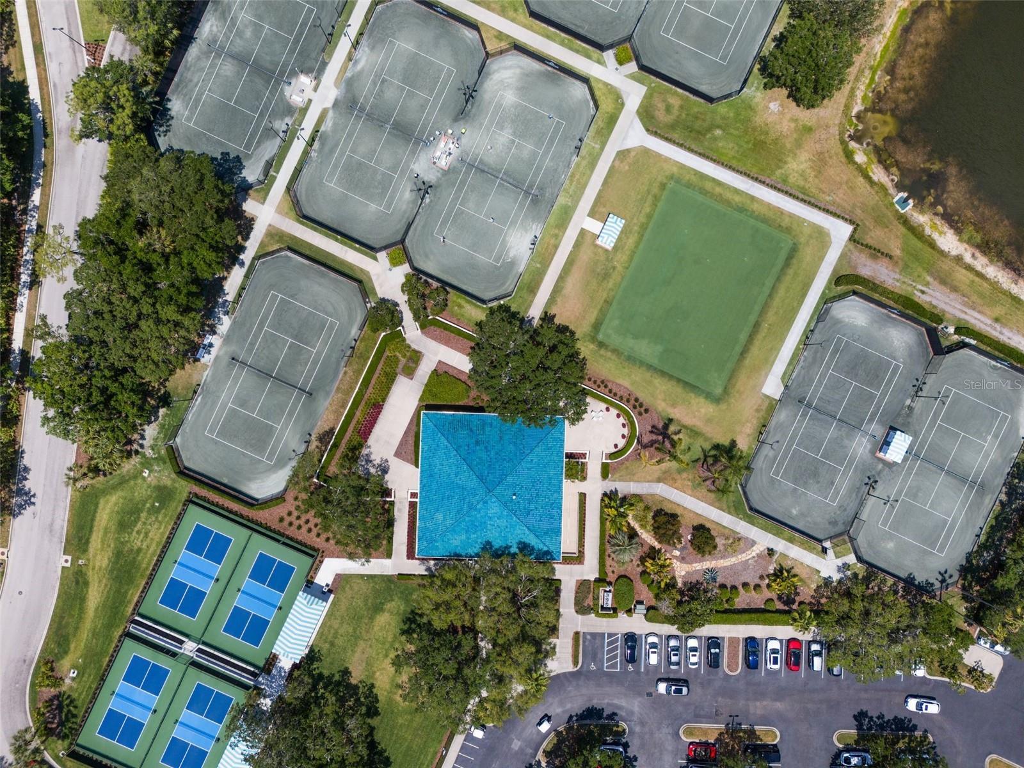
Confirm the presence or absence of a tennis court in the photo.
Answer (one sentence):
Yes, a tennis court can be made out from above.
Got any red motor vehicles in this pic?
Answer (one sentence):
Yes, you can see a red motor vehicle in this photo.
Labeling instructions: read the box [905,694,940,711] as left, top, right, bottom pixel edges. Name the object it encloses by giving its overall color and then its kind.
white car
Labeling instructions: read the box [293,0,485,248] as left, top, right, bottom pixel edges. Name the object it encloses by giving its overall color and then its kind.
gray tennis court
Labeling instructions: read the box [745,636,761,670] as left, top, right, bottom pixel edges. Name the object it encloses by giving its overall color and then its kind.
blue car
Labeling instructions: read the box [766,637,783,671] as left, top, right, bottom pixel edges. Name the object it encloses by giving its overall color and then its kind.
white car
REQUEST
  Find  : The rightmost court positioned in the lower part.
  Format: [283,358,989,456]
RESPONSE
[847,347,1024,593]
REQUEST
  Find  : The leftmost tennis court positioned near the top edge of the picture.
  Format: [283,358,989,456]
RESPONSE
[154,0,346,190]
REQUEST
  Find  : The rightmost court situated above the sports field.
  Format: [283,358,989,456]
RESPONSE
[629,0,782,103]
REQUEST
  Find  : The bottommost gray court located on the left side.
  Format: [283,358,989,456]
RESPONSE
[175,252,368,503]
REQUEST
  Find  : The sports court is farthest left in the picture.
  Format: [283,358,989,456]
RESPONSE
[75,638,187,768]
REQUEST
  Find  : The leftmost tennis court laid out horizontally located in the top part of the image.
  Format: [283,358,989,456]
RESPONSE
[524,0,648,46]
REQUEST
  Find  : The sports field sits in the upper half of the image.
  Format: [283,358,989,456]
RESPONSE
[596,178,796,402]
